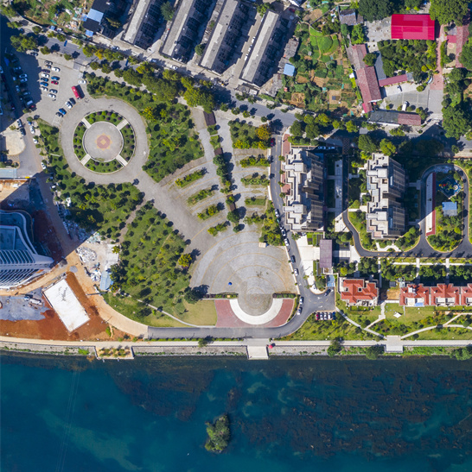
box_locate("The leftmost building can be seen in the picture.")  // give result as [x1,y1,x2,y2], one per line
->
[0,211,58,290]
